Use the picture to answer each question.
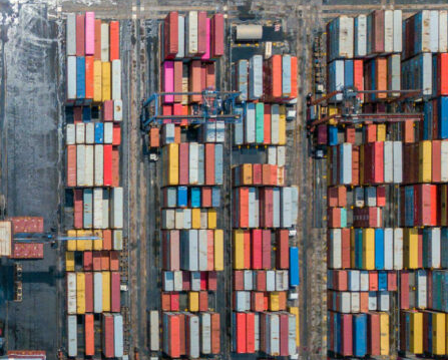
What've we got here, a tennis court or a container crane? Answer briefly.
container crane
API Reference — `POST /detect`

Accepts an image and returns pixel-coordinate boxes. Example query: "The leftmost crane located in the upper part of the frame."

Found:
[145,93,244,137]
